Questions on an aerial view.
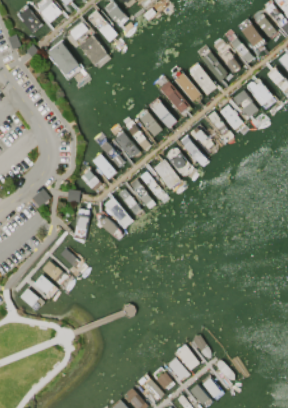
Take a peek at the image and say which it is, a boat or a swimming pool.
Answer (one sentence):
It is a boat that can be seen here.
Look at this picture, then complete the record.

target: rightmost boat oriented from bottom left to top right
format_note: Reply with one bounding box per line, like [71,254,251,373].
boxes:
[269,100,286,115]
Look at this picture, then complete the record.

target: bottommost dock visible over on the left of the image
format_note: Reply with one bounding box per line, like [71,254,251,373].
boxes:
[71,303,136,334]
